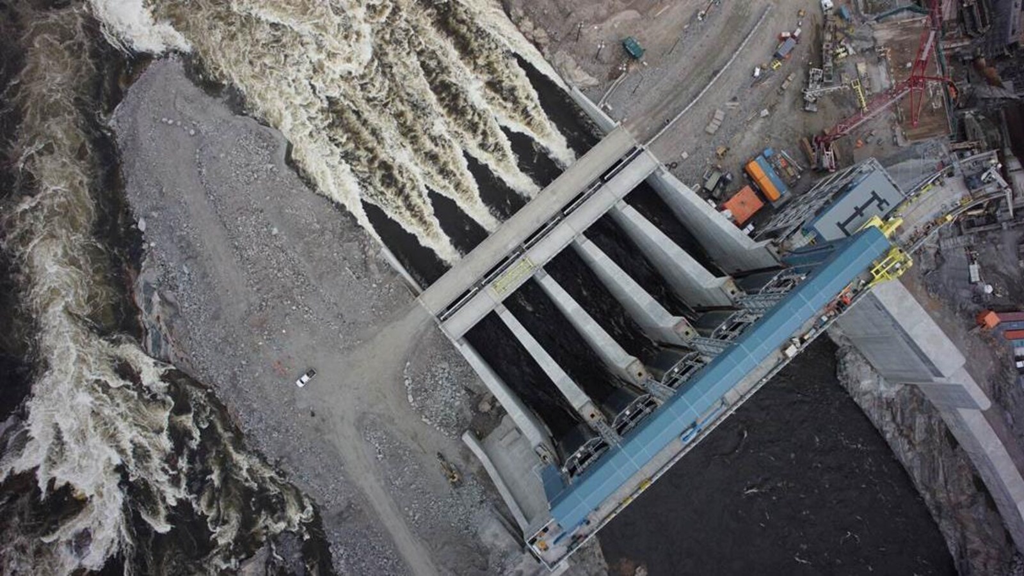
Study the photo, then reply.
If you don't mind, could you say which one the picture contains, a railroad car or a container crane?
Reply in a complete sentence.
It is a container crane that can be seen here.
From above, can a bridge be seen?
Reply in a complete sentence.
Yes, the picture does show a bridge.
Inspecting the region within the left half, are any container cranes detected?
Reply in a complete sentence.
No, no container crane appears within the left half.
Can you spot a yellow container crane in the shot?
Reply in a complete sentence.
Yes, there's a yellow container crane down there.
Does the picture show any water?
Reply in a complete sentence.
Yes, some water is visible.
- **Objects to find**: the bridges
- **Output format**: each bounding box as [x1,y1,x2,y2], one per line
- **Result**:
[417,126,660,340]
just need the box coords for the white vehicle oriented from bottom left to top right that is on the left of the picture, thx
[294,368,317,389]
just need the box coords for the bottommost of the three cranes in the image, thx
[853,215,912,286]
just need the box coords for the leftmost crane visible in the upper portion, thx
[800,69,863,110]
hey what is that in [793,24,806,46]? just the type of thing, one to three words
vehicle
